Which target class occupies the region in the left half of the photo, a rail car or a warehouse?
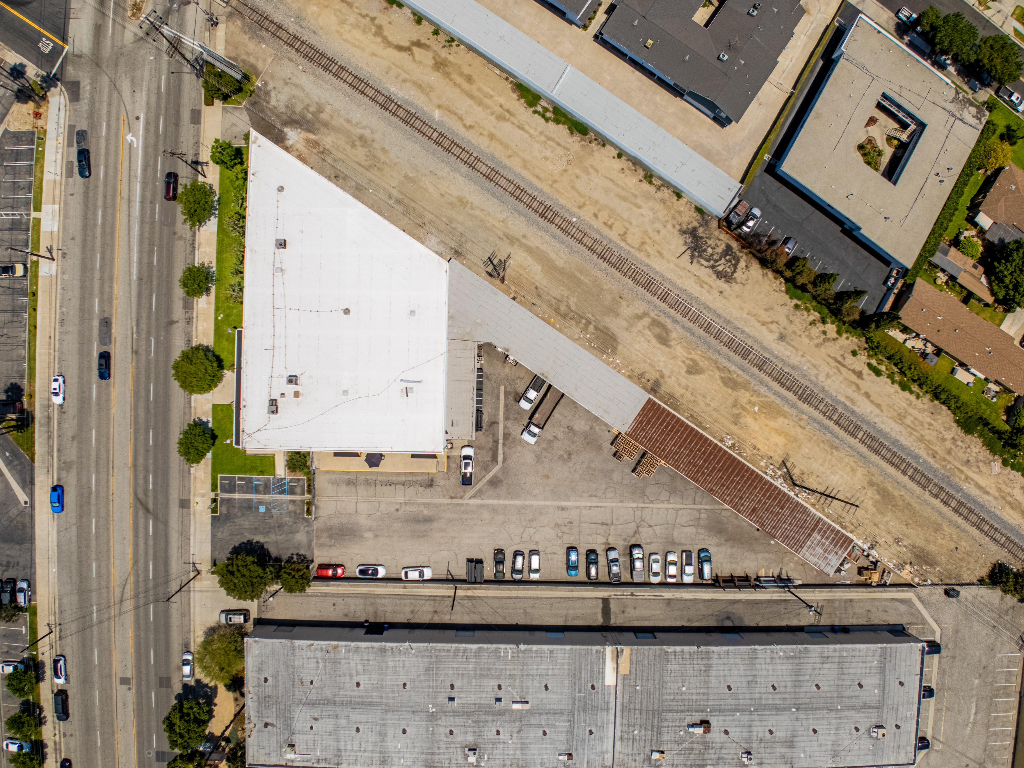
warehouse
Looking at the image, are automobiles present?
Yes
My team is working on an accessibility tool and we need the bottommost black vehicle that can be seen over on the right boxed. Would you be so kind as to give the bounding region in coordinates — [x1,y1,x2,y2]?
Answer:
[916,735,930,750]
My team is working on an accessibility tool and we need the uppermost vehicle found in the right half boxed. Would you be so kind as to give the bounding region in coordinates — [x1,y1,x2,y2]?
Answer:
[892,0,922,31]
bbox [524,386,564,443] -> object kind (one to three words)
truck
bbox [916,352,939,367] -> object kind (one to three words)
gazebo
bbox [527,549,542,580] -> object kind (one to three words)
car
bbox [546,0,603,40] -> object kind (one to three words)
building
